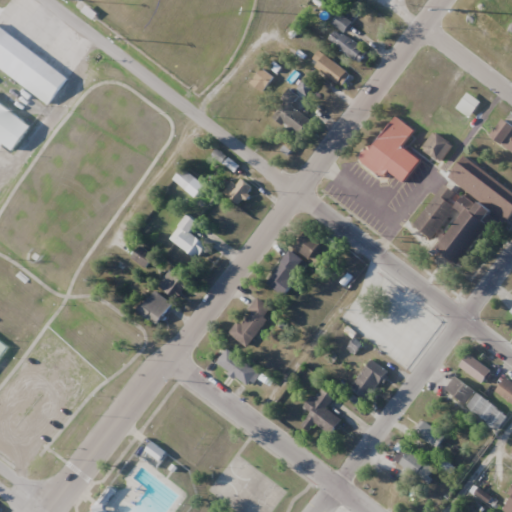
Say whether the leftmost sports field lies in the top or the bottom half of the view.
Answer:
bottom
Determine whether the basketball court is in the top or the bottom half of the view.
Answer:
bottom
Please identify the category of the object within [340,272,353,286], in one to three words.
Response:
vehicle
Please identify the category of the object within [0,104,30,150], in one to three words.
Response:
building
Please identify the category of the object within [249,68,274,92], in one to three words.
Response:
house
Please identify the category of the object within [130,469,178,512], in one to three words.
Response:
swimming pool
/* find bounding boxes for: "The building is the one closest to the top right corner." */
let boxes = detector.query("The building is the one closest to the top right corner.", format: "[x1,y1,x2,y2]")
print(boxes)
[455,92,480,117]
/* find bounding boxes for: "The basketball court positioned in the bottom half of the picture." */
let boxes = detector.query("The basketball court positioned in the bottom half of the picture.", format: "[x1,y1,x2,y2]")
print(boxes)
[210,456,288,512]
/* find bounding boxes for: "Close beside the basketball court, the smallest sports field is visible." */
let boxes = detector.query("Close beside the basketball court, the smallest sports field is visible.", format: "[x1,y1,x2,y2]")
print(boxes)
[156,394,223,466]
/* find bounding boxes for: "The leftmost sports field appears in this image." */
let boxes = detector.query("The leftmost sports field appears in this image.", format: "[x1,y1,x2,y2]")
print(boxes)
[0,330,104,462]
